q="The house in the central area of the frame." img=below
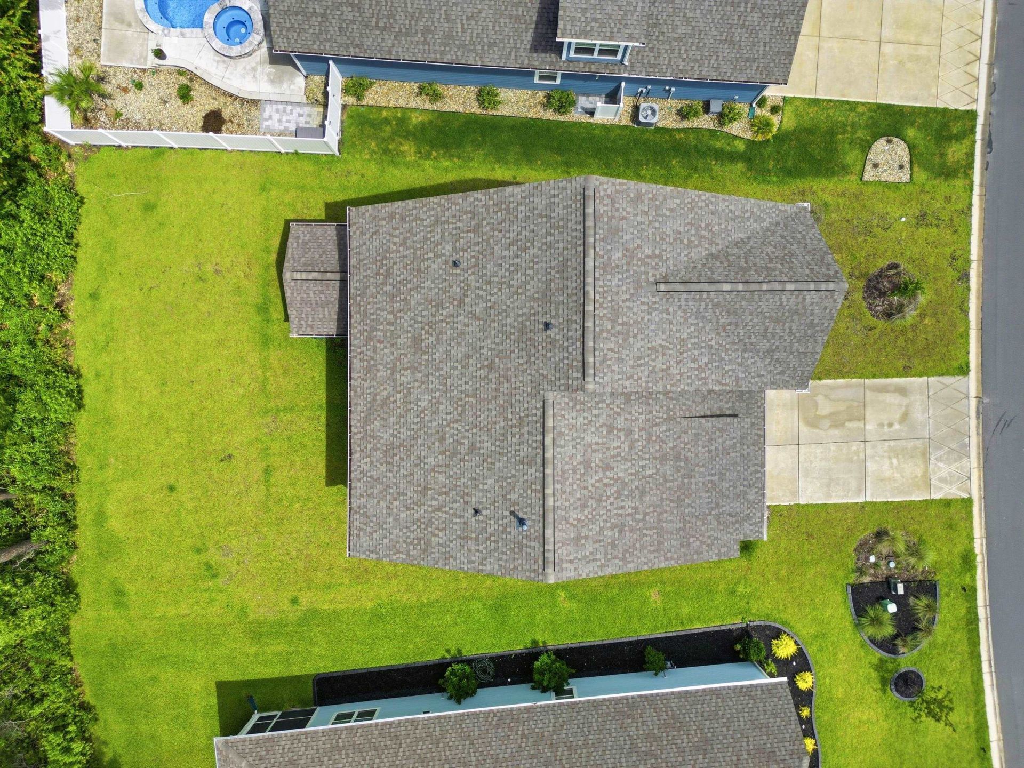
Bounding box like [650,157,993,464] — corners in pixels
[281,174,848,582]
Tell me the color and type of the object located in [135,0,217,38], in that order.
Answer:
blue swimming pool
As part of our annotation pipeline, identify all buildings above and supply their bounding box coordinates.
[281,174,848,582]
[211,660,808,768]
[268,0,805,111]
